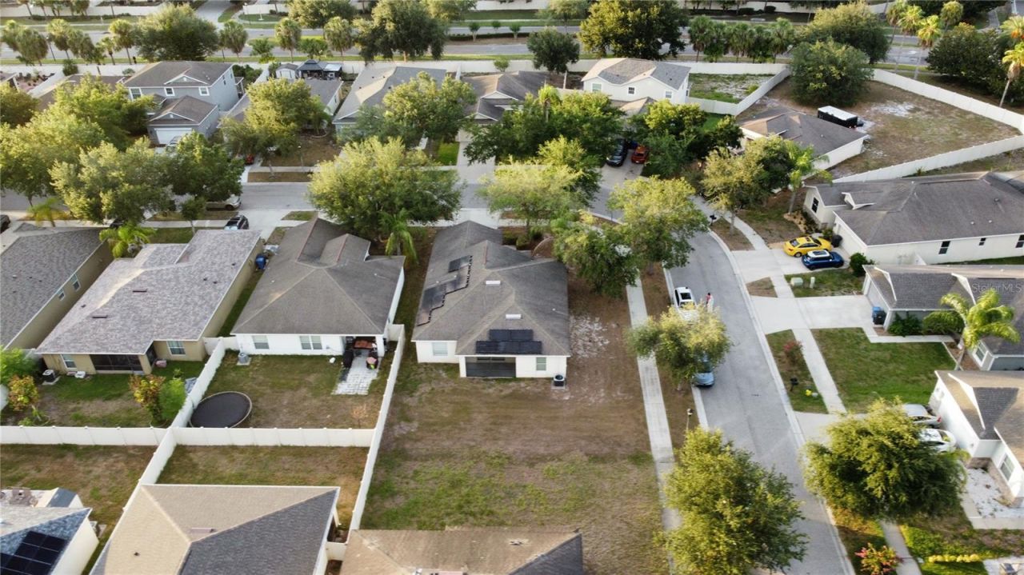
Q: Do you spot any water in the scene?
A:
No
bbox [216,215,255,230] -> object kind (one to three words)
car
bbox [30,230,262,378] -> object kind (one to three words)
house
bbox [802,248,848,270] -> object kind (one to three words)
car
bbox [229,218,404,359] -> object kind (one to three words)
house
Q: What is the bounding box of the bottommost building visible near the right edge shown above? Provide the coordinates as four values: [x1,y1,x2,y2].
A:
[927,371,1024,506]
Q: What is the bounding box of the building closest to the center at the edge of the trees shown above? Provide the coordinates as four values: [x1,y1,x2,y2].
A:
[411,218,570,380]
